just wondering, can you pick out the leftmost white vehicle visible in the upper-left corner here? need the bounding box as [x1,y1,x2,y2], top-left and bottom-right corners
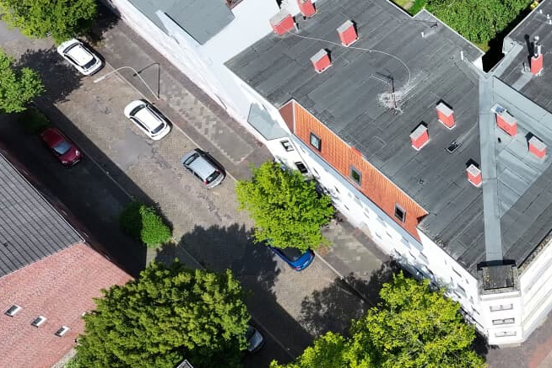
[61,43,103,80]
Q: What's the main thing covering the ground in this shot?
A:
buildings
